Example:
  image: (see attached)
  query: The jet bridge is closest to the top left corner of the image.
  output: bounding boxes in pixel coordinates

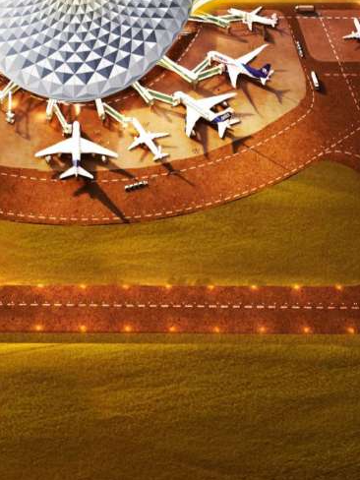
[0,82,17,120]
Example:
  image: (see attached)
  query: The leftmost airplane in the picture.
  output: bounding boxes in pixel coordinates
[37,120,117,175]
